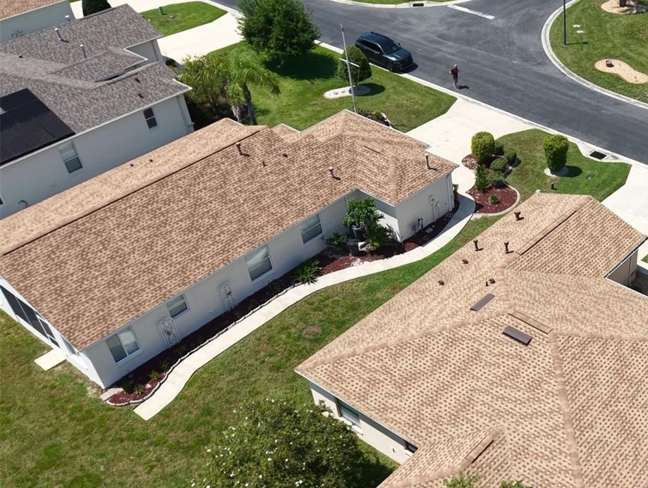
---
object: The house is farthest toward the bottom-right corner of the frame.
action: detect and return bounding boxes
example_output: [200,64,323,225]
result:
[294,195,648,488]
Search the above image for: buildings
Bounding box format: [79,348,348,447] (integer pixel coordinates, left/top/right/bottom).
[0,109,460,388]
[294,195,648,488]
[0,3,203,215]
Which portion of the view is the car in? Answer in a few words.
top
